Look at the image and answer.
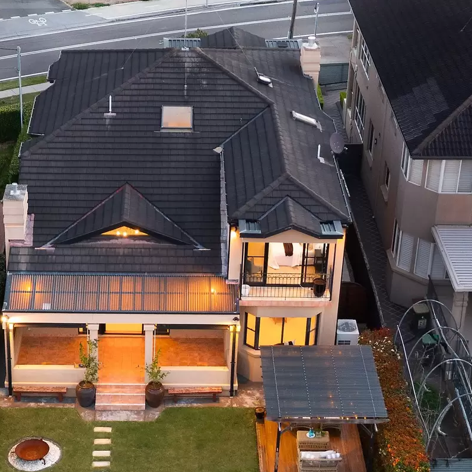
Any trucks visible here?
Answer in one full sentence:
No, I can see no truck in this picture.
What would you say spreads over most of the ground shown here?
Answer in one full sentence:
The scene is dominated by buildings.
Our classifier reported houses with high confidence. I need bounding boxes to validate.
[333,0,472,334]
[1,23,353,409]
